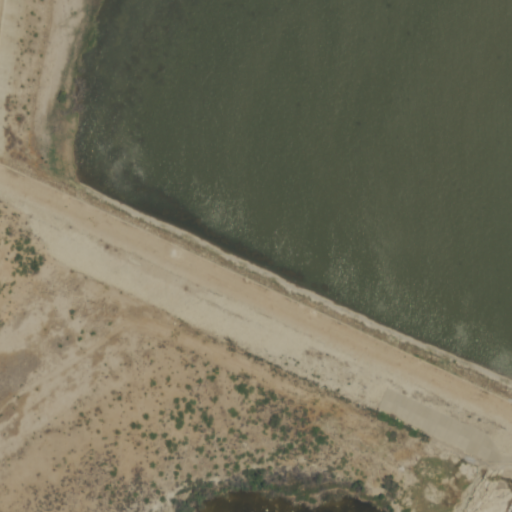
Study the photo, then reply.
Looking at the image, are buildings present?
No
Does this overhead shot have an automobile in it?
No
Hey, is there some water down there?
Yes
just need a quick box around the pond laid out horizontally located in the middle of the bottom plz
[199,490,381,512]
